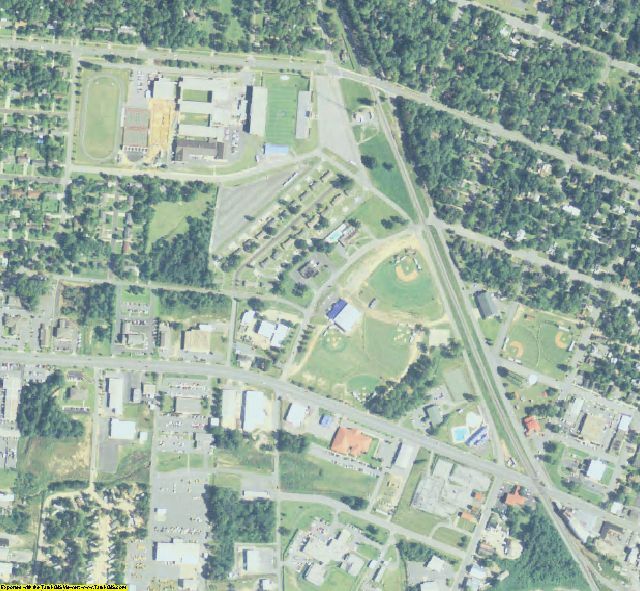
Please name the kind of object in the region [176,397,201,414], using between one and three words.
building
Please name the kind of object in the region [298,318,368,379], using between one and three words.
baseball field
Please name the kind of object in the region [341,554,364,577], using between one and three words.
building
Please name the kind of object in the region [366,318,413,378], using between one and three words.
baseball field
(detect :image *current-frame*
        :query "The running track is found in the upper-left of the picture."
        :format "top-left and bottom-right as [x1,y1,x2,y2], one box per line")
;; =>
[79,74,126,162]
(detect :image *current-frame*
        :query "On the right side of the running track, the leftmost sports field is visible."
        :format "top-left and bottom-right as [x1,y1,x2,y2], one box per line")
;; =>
[264,74,311,143]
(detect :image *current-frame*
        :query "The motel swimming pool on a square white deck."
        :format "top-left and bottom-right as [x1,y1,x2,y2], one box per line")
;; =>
[451,426,470,443]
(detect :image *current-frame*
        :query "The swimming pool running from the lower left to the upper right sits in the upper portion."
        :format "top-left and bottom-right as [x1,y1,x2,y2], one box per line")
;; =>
[325,224,347,244]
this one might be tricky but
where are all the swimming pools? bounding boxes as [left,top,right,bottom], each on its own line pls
[325,224,347,244]
[451,426,470,443]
